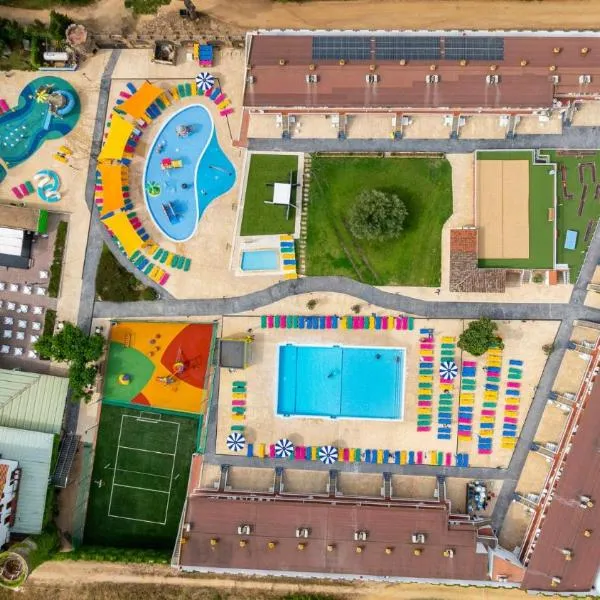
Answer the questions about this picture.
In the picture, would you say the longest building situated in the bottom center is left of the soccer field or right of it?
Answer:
on the right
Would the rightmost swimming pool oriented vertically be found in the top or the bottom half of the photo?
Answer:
top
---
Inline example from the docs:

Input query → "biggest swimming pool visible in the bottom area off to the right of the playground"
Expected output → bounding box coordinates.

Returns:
[274,342,407,422]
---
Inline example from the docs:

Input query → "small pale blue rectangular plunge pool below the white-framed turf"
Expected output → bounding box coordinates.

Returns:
[239,248,281,272]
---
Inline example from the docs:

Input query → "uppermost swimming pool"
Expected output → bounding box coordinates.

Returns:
[0,76,80,169]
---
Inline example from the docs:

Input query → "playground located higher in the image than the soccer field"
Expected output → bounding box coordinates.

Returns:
[105,322,212,408]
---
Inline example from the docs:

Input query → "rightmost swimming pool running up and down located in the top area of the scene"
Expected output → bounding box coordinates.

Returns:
[199,131,236,217]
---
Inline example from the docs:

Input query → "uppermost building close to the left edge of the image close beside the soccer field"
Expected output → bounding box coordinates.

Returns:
[0,364,77,434]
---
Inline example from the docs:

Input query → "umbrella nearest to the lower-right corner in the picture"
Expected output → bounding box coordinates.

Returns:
[439,362,457,379]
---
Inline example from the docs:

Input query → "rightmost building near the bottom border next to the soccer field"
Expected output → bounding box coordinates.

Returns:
[172,479,493,587]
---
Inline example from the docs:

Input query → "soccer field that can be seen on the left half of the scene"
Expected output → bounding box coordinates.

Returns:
[84,410,203,550]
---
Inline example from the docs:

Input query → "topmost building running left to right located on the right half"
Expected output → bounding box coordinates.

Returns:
[243,31,600,115]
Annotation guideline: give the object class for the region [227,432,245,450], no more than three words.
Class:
umbrella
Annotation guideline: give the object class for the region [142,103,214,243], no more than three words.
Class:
swimming pool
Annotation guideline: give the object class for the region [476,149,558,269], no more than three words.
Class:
sports court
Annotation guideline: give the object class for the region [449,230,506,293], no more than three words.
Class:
building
